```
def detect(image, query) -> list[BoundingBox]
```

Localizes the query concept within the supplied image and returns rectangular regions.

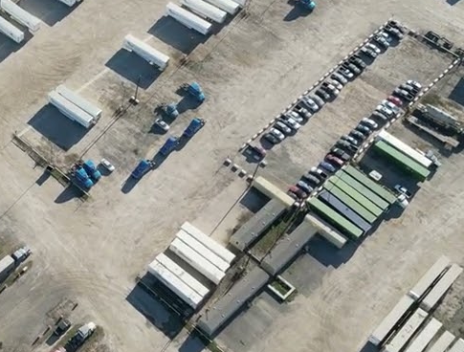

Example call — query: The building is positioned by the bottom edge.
[196,265,270,340]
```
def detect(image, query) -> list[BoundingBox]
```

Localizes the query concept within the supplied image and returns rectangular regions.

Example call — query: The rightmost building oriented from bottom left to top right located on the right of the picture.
[260,219,319,278]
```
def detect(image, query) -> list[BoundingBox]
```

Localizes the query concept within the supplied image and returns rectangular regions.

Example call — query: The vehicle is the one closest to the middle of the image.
[249,141,268,158]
